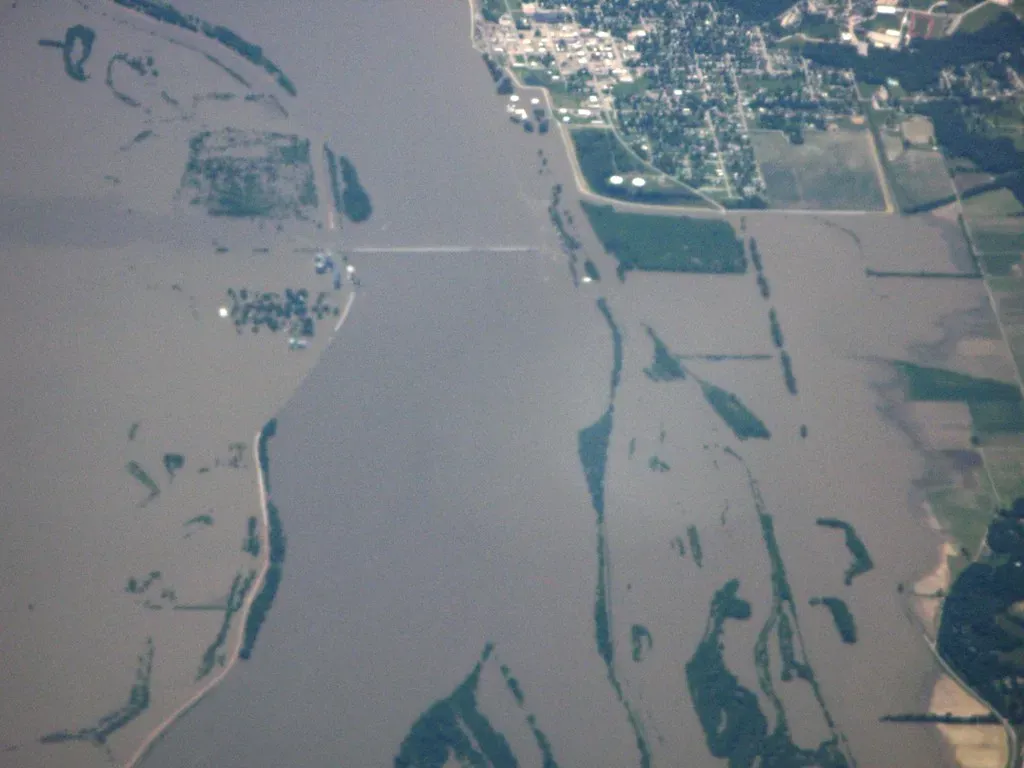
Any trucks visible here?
No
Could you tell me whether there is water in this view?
Yes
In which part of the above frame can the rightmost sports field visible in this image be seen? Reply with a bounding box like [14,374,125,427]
[906,12,944,37]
